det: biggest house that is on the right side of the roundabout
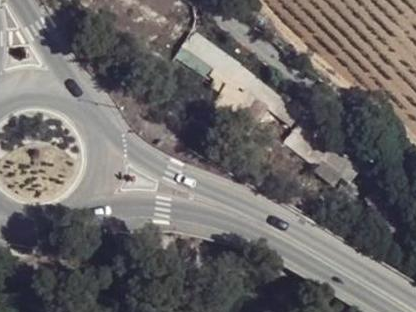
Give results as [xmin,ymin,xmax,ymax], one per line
[175,32,294,126]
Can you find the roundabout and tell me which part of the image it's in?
left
